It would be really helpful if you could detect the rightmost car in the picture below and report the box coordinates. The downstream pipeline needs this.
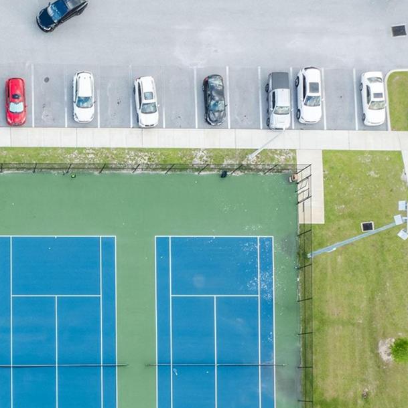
[358,72,387,128]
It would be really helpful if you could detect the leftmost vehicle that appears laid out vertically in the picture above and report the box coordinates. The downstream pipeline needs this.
[4,77,28,128]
